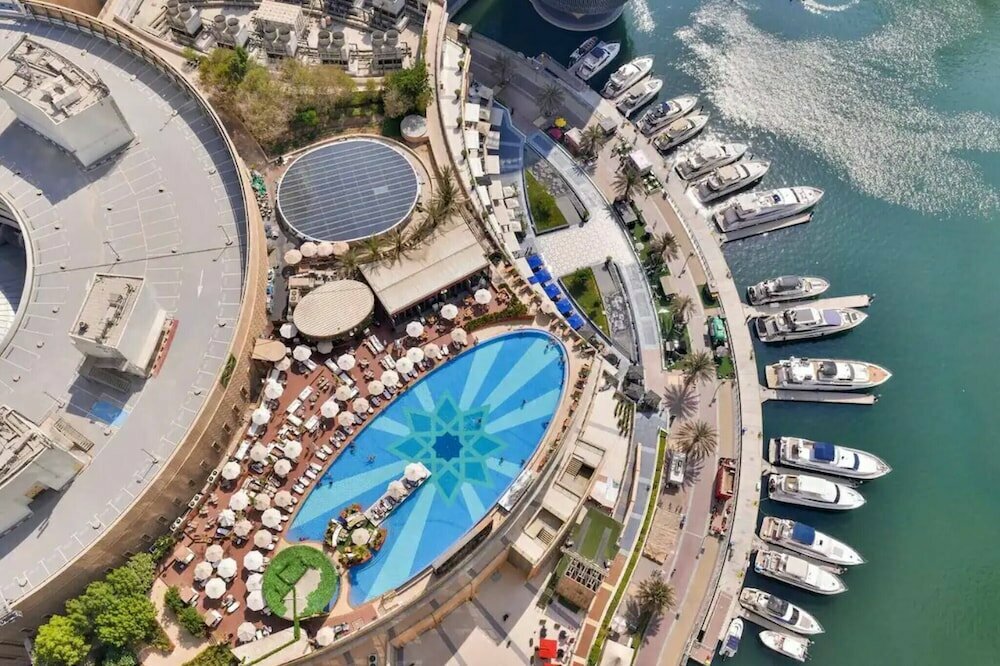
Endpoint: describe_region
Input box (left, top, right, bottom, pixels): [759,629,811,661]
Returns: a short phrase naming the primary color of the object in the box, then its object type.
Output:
white boat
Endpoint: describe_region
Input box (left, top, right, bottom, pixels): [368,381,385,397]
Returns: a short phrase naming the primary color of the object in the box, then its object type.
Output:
white umbrella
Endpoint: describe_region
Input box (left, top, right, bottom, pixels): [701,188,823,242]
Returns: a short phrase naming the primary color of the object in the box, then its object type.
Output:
white boat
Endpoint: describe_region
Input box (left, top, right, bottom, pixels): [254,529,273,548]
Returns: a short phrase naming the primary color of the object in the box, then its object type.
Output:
white umbrella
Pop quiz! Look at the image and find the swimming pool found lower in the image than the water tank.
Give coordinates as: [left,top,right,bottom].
[279,325,573,615]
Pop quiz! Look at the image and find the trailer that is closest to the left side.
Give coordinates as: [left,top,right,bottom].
[668,453,688,496]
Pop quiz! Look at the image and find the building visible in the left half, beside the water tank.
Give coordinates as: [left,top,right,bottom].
[276,139,420,251]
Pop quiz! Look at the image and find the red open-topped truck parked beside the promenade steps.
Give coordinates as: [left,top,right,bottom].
[713,458,736,503]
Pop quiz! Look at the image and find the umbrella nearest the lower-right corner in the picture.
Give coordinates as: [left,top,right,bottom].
[609,613,631,636]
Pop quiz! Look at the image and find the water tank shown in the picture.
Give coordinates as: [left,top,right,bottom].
[402,120,427,146]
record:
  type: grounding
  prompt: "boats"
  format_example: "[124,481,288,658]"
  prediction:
[616,83,662,122]
[719,619,743,657]
[568,37,596,65]
[572,46,619,84]
[733,571,822,638]
[635,100,696,142]
[759,629,811,661]
[649,116,708,156]
[748,535,846,598]
[701,188,823,242]
[680,161,771,207]
[755,511,864,568]
[761,427,891,483]
[742,307,866,349]
[735,277,827,312]
[758,464,864,516]
[599,60,652,107]
[664,145,746,186]
[754,355,890,395]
